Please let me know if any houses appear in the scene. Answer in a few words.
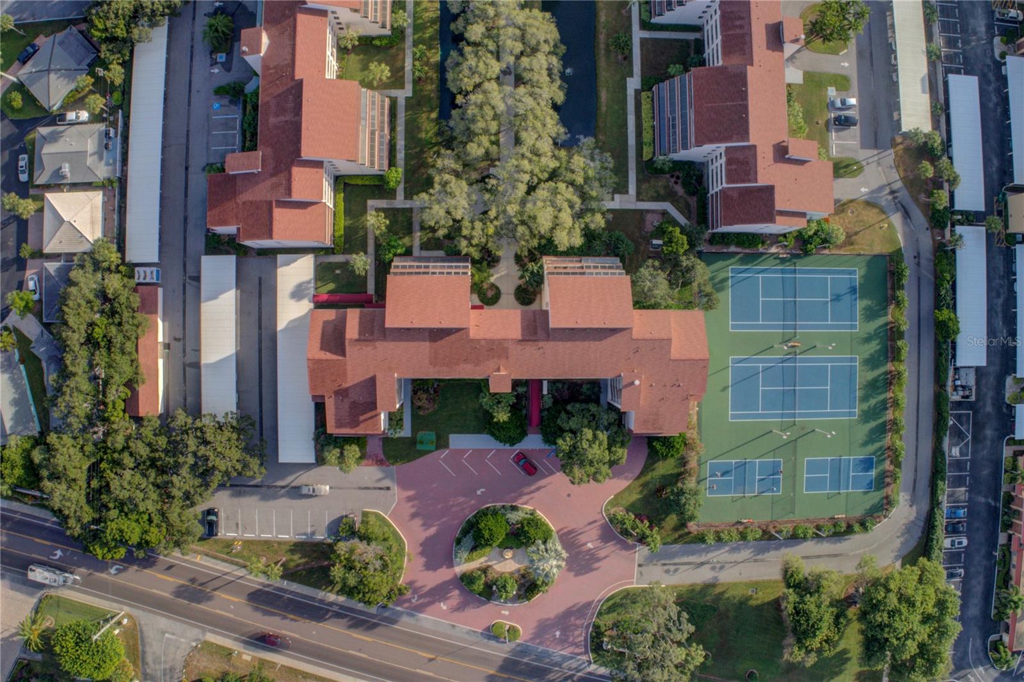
Yes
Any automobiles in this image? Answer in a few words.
Yes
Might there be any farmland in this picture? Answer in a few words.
No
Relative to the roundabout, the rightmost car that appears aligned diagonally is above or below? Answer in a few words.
above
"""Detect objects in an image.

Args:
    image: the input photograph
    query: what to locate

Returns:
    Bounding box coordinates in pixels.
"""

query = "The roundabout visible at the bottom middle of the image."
[454,505,560,604]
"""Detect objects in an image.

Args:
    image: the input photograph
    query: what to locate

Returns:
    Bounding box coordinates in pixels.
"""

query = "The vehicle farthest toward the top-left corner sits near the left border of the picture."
[12,38,38,66]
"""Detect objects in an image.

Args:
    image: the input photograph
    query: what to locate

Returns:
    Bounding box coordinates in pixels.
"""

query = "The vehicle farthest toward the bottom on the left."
[258,633,287,650]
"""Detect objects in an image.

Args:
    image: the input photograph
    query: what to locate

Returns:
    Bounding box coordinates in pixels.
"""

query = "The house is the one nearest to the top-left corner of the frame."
[17,25,104,112]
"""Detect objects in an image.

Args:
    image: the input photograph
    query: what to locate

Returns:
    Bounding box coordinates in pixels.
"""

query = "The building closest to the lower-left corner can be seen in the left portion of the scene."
[0,335,48,444]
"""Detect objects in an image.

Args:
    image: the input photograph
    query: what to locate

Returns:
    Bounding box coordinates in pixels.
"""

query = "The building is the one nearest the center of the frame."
[307,257,709,436]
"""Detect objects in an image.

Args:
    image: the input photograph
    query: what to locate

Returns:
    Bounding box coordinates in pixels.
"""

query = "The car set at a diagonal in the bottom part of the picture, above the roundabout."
[512,451,538,477]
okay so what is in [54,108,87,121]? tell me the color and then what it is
white vehicle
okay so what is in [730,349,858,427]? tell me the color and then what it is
blue tennis court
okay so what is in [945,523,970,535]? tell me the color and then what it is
black vehicle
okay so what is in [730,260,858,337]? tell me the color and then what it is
blue tennis court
